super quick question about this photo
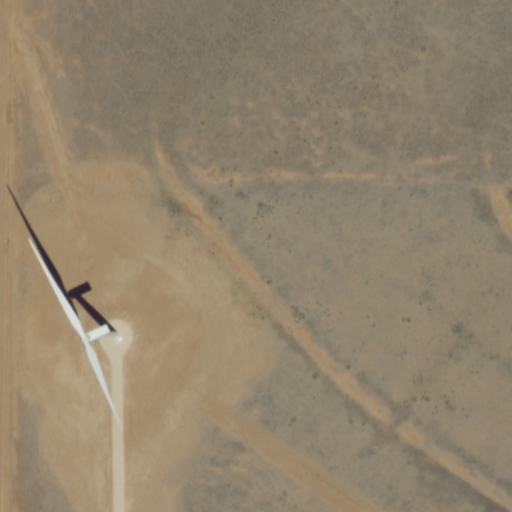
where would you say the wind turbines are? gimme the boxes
[29,238,122,432]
